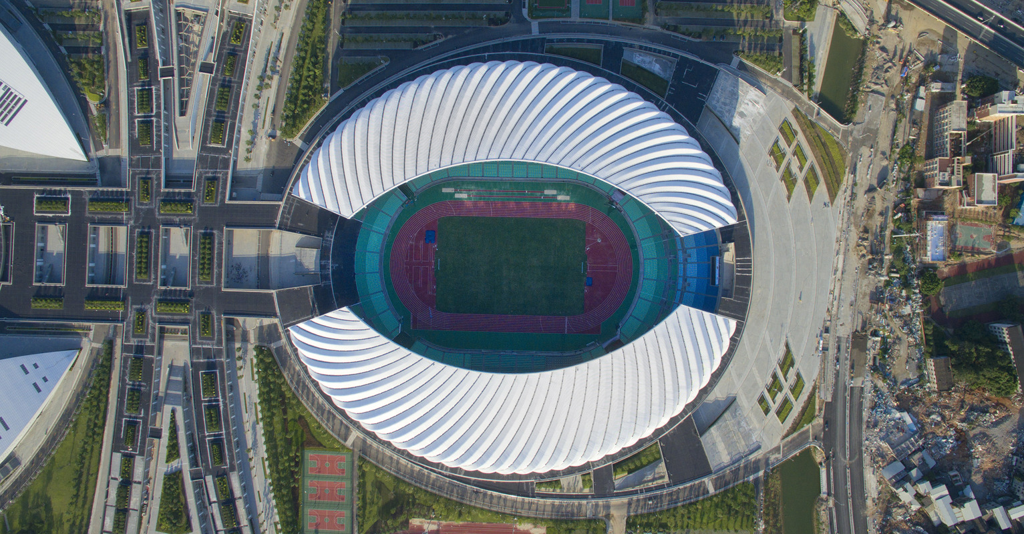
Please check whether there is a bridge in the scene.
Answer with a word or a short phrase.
Yes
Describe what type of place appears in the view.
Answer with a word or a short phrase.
sports ground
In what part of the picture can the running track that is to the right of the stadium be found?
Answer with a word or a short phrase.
right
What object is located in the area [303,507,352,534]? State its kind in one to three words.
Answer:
basketball court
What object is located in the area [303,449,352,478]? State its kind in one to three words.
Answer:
basketball court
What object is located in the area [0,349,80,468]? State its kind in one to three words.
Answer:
building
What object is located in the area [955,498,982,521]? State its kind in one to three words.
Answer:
house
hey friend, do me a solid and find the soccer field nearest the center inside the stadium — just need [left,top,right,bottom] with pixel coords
[436,217,586,316]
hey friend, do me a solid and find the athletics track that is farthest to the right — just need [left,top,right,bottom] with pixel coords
[932,249,1024,325]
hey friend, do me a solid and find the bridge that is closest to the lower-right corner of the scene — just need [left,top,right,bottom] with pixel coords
[760,412,829,473]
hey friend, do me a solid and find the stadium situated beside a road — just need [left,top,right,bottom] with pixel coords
[274,32,754,501]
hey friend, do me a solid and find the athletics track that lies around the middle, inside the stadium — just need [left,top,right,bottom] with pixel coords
[390,200,631,335]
